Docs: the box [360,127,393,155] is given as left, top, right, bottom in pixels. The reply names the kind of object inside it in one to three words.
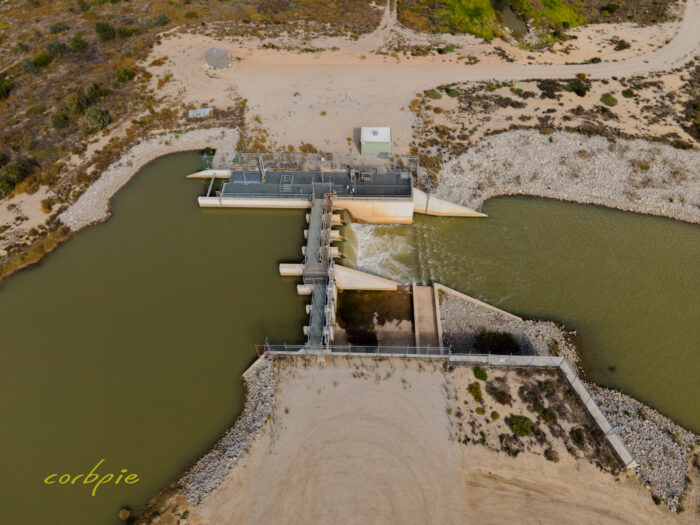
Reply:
shed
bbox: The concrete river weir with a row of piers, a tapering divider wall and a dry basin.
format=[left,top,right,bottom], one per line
[280,214,444,354]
